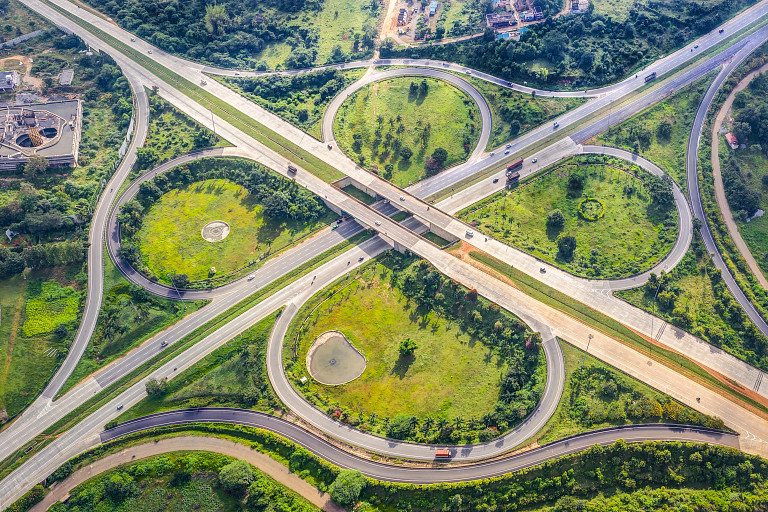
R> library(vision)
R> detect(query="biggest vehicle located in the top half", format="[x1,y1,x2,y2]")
[506,156,526,170]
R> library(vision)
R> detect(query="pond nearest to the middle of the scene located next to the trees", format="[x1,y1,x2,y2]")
[305,330,362,382]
